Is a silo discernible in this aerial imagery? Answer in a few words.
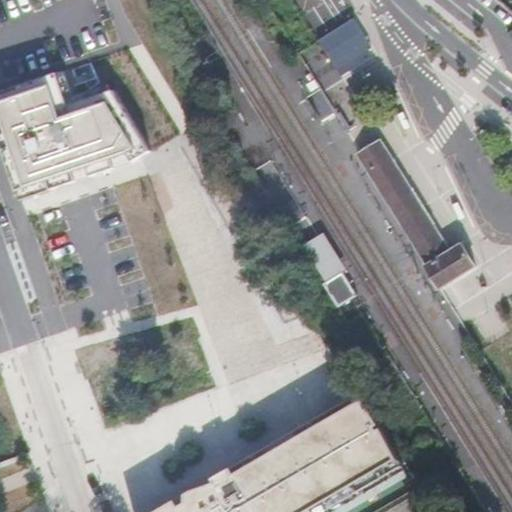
No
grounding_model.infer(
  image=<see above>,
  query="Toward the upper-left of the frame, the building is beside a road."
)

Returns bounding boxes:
[0,72,152,200]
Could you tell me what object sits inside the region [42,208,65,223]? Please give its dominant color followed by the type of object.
white car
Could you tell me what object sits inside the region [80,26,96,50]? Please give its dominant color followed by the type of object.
white car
